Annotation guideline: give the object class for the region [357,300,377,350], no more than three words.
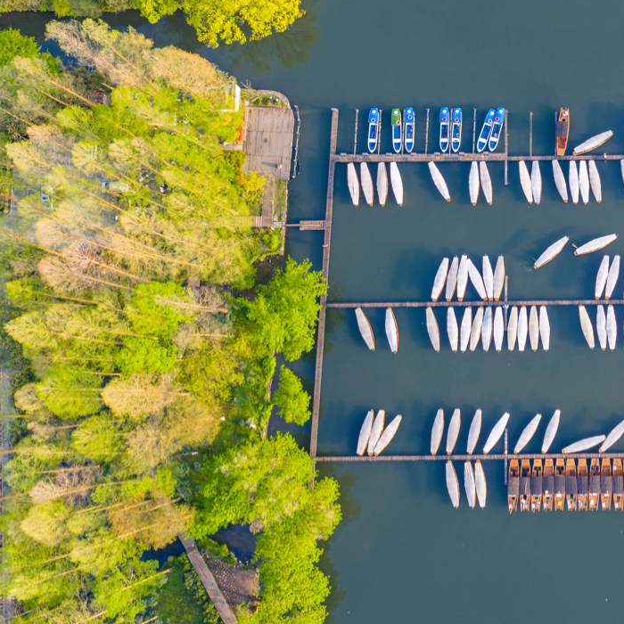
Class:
boat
